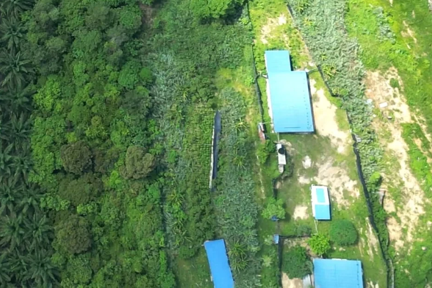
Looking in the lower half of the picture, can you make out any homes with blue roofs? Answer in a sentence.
Yes, there is a home with a blue roof in the lower half of the picture.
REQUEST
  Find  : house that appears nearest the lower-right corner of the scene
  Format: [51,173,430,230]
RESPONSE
[297,259,364,288]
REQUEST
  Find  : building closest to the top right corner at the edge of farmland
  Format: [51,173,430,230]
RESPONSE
[263,50,314,133]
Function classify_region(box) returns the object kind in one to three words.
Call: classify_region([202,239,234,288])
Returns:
house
